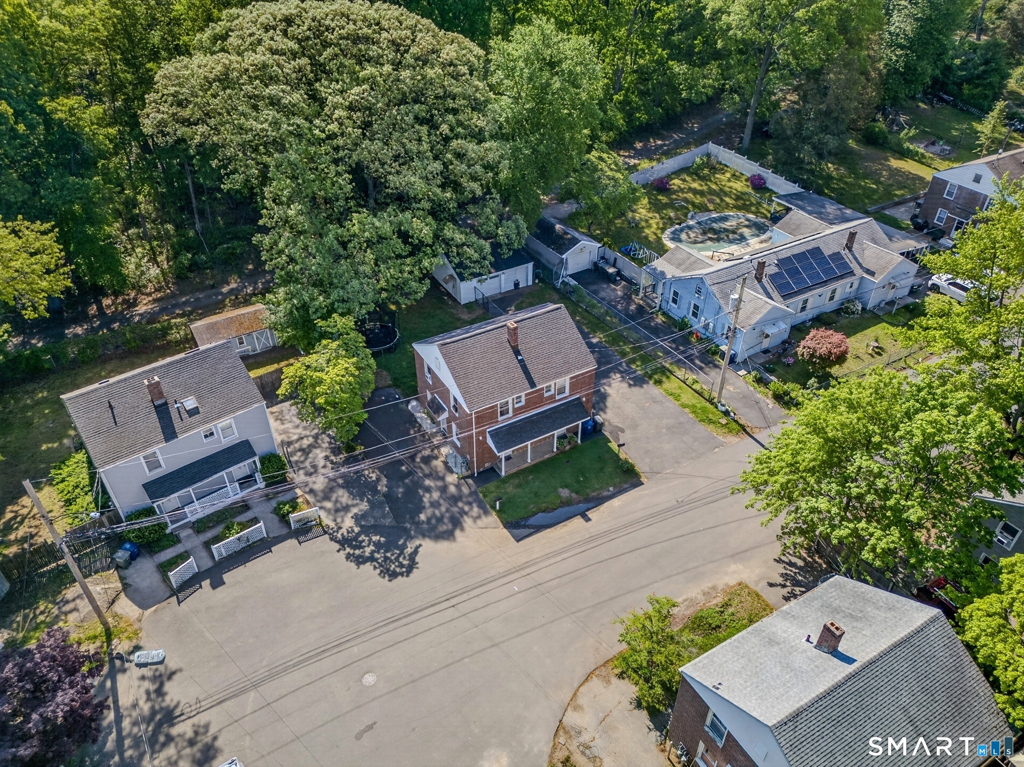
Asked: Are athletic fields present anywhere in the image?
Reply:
No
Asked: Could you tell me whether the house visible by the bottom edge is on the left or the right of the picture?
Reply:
right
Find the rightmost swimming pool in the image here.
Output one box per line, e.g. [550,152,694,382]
[659,211,779,262]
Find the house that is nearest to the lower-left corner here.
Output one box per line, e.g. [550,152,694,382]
[62,339,276,540]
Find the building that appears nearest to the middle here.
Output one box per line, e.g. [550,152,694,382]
[412,304,598,481]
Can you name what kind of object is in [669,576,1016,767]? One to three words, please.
house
